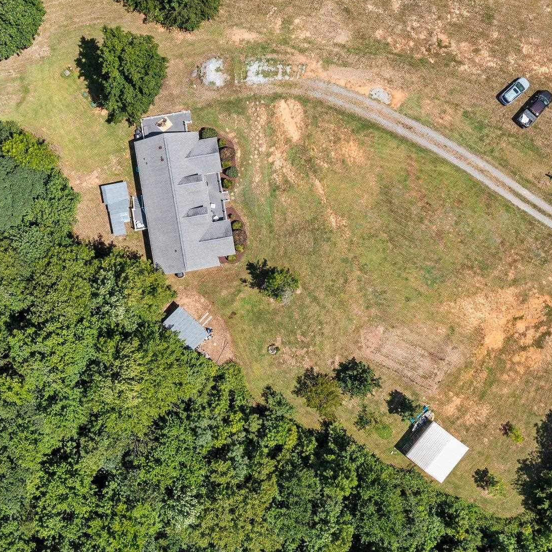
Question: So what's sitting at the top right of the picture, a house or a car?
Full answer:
Visible at the top right of the picture is a car.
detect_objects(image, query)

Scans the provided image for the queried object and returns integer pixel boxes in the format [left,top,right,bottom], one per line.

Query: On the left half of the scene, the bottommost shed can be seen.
[164,307,209,350]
